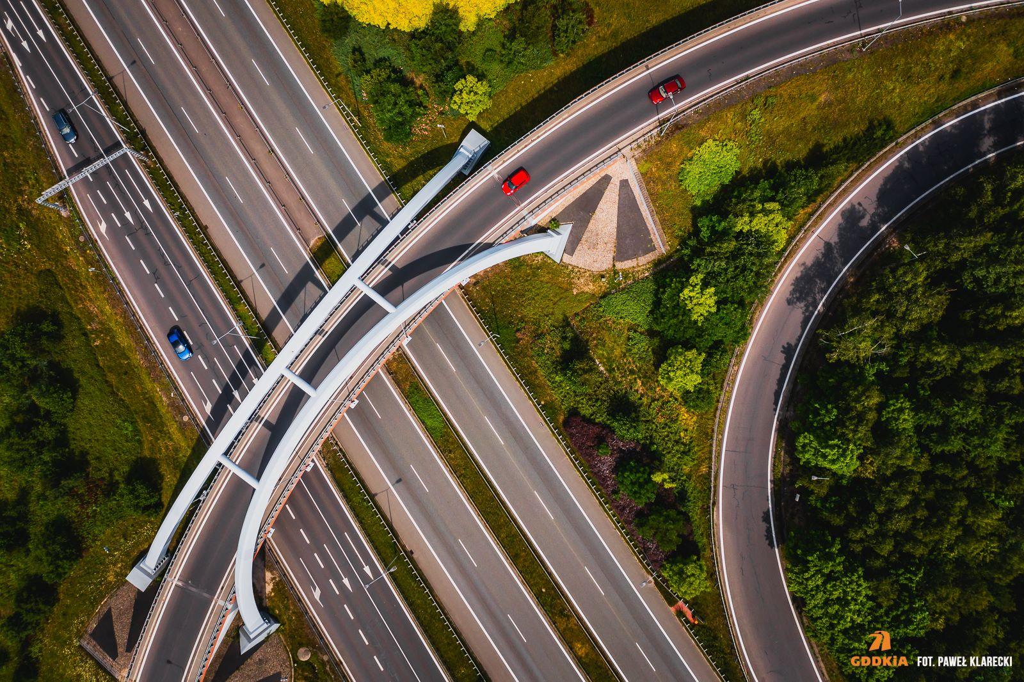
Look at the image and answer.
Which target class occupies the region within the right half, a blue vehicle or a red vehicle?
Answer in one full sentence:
What appears within the right half is a red vehicle.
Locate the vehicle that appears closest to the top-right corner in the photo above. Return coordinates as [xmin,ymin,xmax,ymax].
[648,77,686,103]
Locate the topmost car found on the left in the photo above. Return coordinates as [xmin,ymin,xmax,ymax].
[49,109,77,142]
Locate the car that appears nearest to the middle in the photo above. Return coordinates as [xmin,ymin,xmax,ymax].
[501,169,531,194]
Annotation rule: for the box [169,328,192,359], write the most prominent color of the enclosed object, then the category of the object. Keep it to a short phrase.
blue car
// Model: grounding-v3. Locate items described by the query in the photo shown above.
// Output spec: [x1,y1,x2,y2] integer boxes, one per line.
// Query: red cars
[648,77,686,103]
[501,169,531,194]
